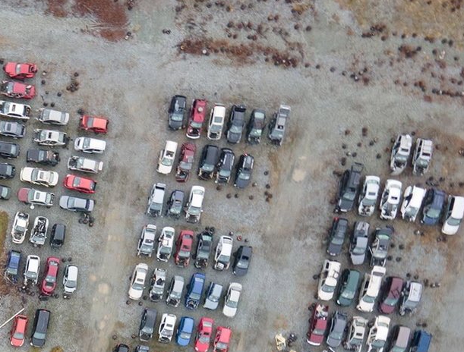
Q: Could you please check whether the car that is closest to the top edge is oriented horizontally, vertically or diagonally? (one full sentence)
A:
The car that is closest to the top edge is oriented horizontally.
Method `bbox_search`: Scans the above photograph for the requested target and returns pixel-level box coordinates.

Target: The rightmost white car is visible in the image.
[439,194,464,236]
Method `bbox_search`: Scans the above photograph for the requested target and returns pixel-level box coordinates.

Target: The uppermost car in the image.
[1,62,38,82]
